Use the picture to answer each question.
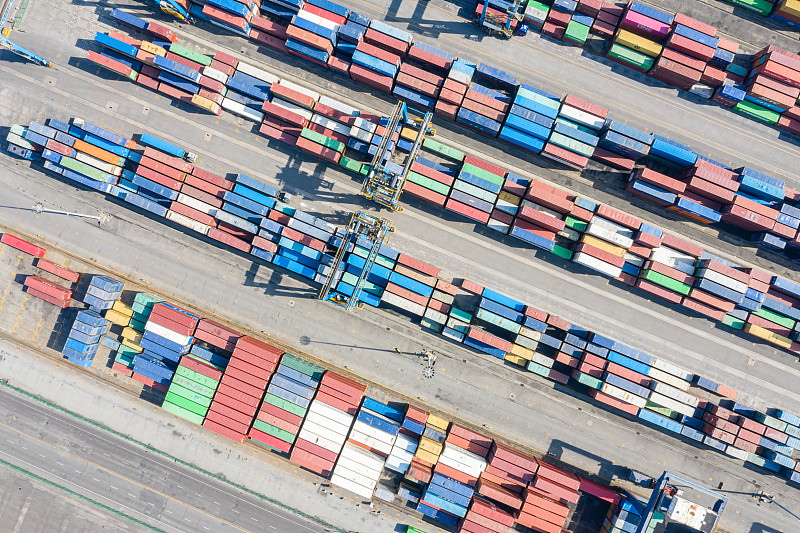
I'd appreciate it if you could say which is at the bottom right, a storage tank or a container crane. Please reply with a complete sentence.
You can see a container crane at the bottom right.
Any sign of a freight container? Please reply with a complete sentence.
Yes, you can see a freight container in this photo.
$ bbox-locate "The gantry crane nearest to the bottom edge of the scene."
[613,467,731,533]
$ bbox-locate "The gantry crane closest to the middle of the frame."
[312,205,405,319]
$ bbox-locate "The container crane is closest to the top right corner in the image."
[466,0,523,41]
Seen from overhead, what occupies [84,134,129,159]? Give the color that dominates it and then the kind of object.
blue shipping container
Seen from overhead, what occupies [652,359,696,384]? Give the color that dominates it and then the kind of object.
white shipping container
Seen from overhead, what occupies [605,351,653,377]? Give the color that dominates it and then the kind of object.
blue shipping container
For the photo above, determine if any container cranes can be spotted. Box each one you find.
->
[145,0,197,29]
[0,0,61,70]
[359,97,443,215]
[466,0,523,41]
[312,205,405,319]
[613,467,731,533]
